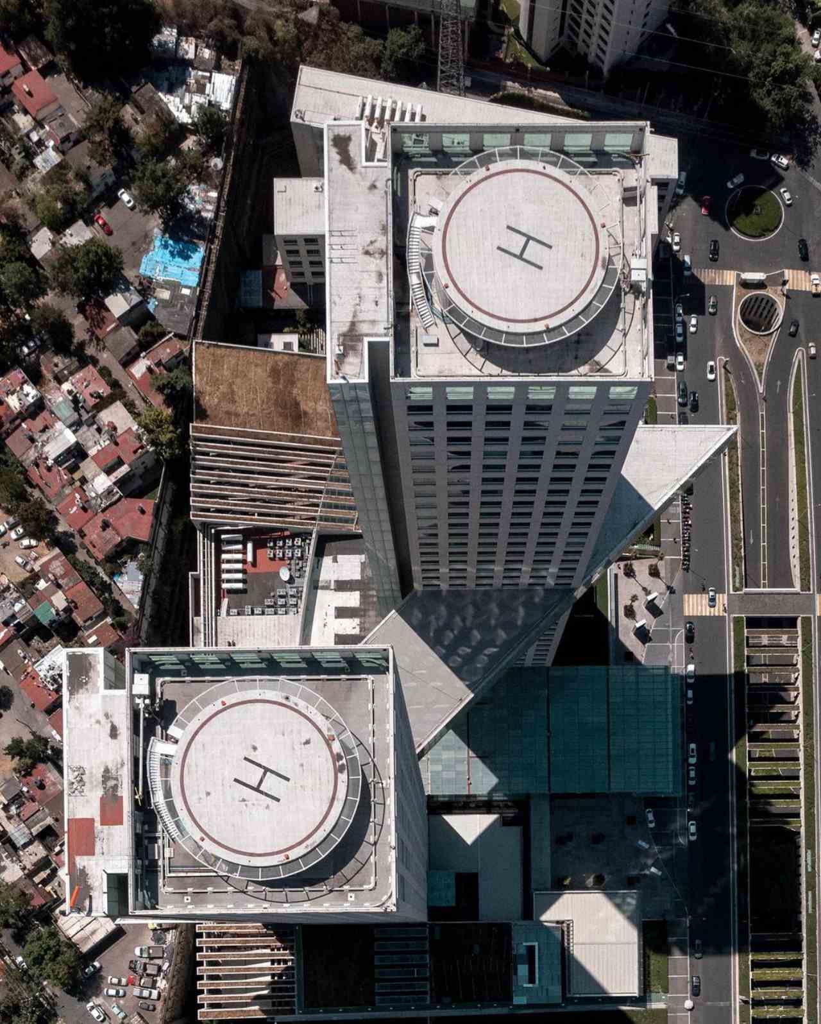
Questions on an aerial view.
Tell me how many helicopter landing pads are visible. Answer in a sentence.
The picture shows 2 helicopter landing pads.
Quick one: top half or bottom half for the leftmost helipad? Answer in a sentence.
You can find the leftmost helipad in the bottom half.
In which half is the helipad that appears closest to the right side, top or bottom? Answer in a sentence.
The helipad that appears closest to the right side sits in the top half of the picture.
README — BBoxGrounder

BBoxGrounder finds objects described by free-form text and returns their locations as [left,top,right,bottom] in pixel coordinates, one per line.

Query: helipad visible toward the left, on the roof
[140,677,361,880]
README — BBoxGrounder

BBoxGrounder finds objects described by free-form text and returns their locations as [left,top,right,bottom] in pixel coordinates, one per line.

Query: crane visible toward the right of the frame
[622,159,649,289]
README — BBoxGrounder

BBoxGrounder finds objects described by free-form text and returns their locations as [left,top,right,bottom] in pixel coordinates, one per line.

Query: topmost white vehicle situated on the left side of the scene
[116,188,134,210]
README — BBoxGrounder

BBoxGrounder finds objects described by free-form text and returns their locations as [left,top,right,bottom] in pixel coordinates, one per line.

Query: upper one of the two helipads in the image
[404,145,621,346]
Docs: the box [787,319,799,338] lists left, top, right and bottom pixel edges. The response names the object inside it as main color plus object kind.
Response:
black vehicle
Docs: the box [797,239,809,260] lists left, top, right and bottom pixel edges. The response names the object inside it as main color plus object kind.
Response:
black vehicle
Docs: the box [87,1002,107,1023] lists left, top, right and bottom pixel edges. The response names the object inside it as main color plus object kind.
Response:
white car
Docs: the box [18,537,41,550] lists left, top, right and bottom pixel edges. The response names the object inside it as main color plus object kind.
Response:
white vehicle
